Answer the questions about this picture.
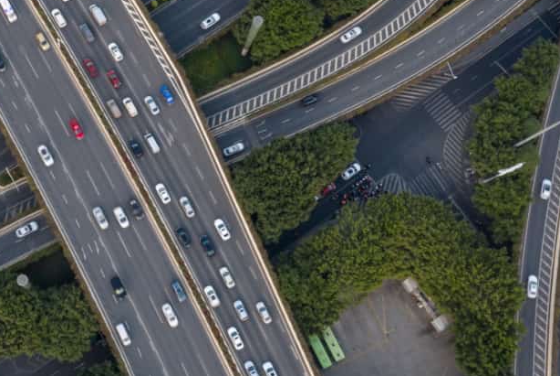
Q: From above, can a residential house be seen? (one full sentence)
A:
No, there appears to be no residential house in this shot.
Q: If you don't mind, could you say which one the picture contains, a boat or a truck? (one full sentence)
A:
This aerial view contains a truck.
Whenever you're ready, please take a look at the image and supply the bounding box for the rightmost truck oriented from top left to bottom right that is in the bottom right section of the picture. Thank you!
[407,280,448,331]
